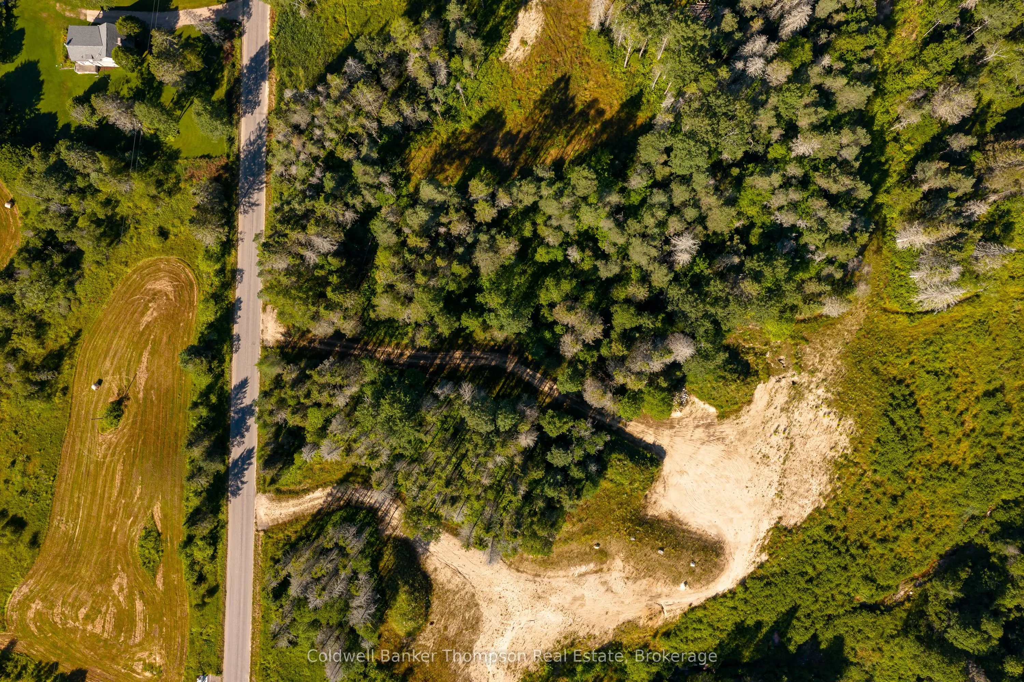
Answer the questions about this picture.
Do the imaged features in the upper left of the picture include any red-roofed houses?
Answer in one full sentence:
No, looking in the upper left of the picture, there is no red-roofed house.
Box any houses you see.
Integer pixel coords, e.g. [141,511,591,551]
[64,22,134,76]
